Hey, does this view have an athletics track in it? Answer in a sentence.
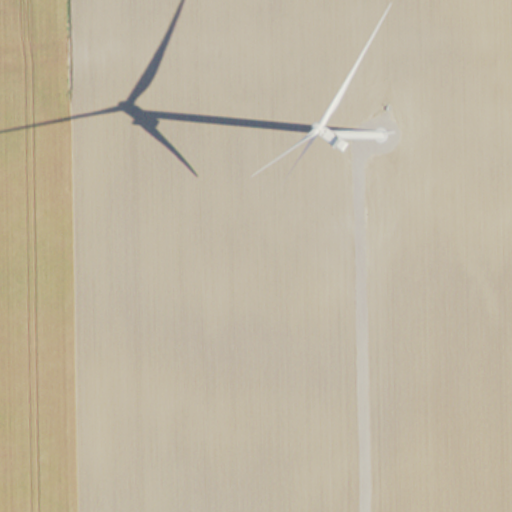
No, there is no athletics track in the image.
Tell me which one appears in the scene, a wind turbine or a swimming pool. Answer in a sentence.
This aerial view contains a wind turbine.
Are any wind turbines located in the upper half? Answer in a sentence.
Yes, I can see a wind turbine in the upper half.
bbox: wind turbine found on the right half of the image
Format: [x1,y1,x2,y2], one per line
[252,2,396,183]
